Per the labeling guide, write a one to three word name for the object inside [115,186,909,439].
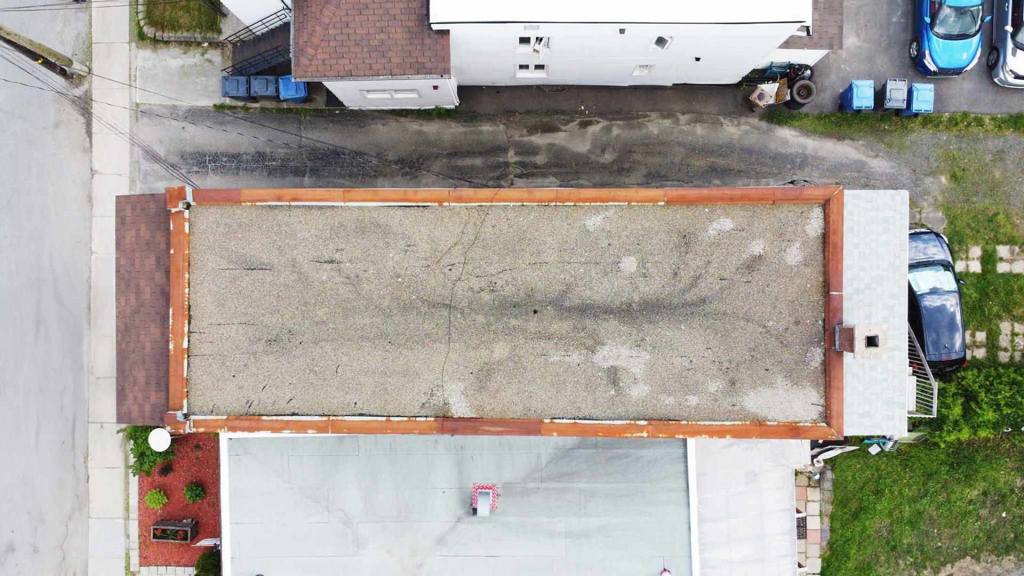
building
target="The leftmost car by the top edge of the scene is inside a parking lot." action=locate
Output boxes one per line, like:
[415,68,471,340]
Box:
[910,0,995,77]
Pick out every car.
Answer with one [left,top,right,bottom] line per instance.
[908,230,971,375]
[910,0,995,77]
[986,0,1024,91]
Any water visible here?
No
